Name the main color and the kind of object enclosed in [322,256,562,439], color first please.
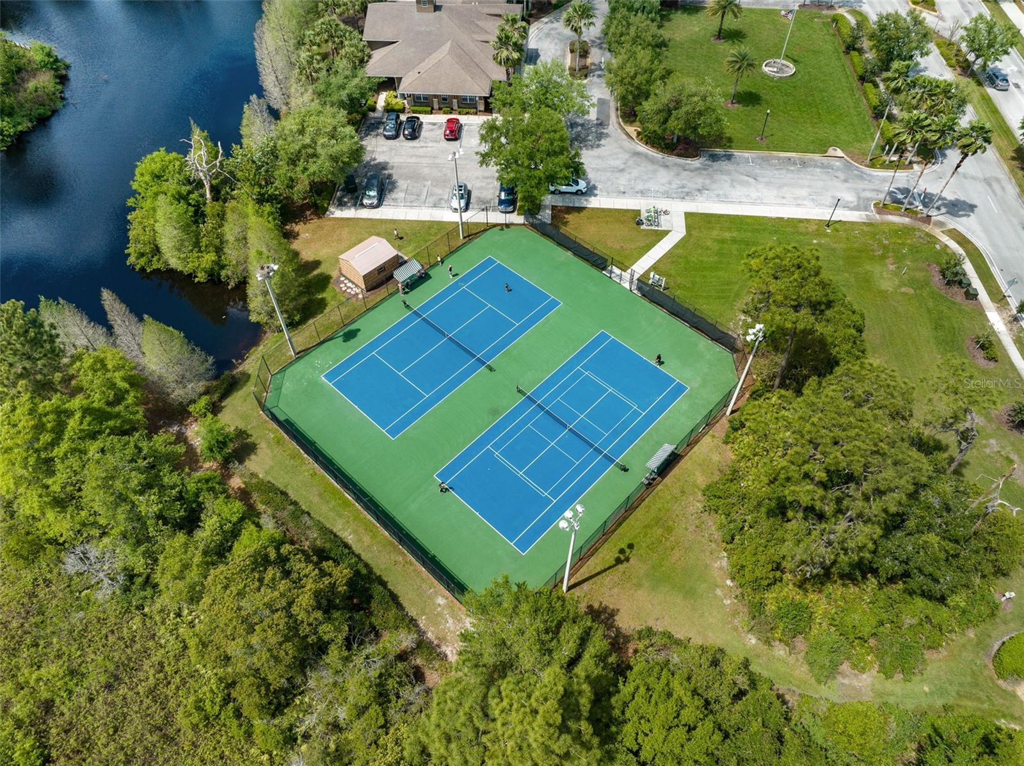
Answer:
blue tennis court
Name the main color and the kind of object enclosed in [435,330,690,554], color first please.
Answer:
blue tennis court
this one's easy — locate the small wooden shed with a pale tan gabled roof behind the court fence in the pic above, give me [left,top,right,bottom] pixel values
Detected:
[331,232,400,292]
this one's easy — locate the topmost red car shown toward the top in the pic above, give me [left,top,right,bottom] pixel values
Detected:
[444,114,460,136]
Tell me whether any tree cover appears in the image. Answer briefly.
Yes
